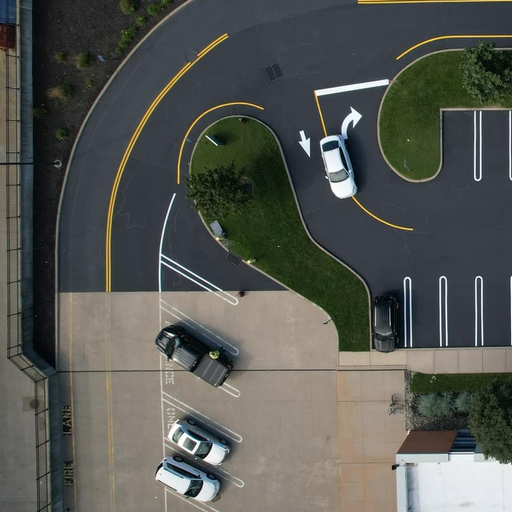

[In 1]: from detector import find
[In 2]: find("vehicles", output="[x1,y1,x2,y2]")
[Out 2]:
[155,324,235,388]
[321,134,359,201]
[370,294,399,351]
[166,415,234,466]
[154,451,223,503]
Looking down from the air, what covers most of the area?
paved ground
